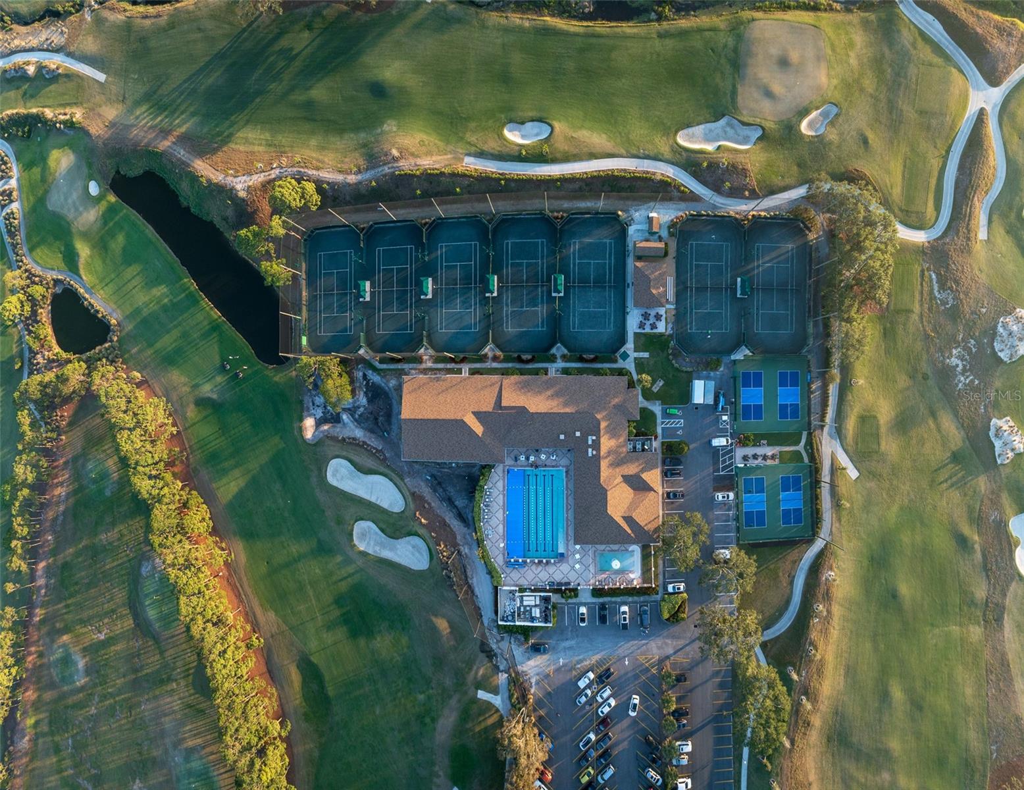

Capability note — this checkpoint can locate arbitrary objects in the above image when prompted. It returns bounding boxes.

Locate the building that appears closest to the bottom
[401,376,660,544]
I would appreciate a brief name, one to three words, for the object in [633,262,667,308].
building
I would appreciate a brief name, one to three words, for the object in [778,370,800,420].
sports court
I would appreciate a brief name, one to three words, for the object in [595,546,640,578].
swimming pool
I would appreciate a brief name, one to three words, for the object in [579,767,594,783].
car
